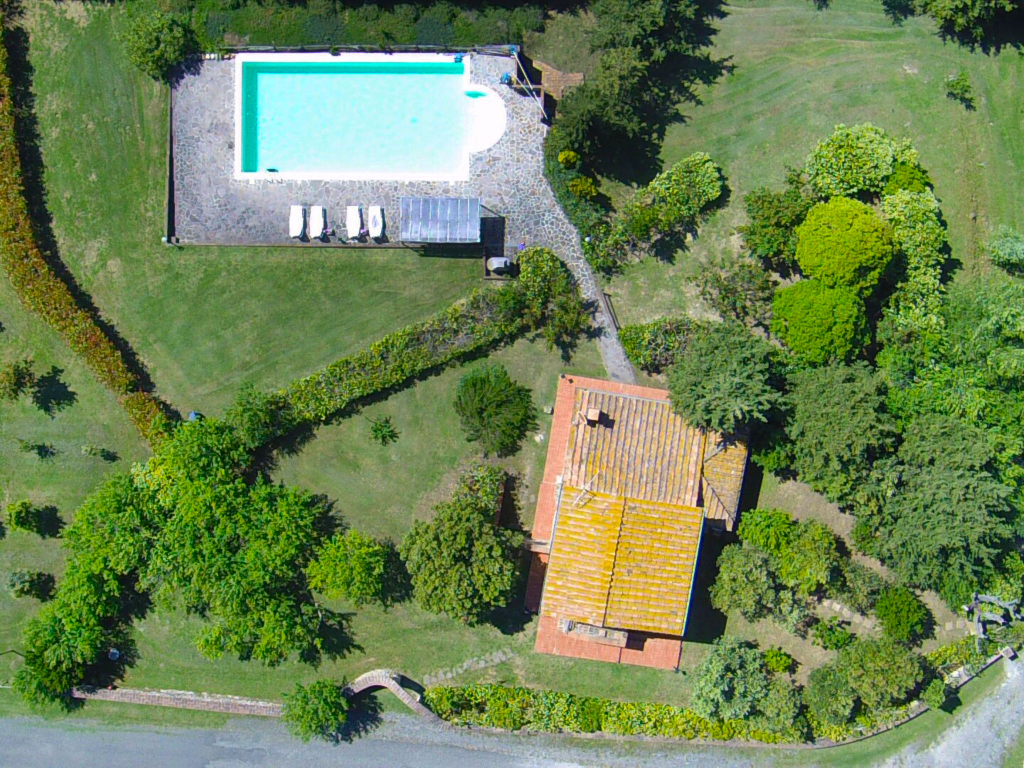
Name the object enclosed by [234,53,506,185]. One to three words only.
swimming pool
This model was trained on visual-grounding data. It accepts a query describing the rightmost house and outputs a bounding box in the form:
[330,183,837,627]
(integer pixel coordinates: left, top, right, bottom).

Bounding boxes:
[538,387,754,636]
